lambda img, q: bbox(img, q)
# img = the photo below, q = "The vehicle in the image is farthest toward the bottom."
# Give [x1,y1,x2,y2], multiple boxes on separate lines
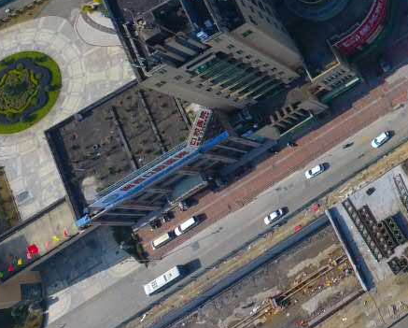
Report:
[133,263,183,296]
